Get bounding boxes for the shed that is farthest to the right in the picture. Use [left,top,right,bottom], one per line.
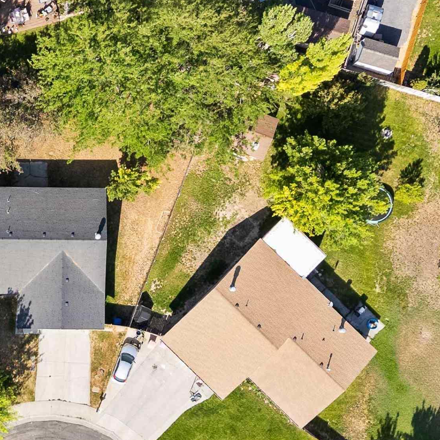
[349,38,400,77]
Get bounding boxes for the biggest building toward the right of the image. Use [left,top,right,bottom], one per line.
[160,238,377,428]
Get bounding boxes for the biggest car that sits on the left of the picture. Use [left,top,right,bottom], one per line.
[111,336,139,385]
